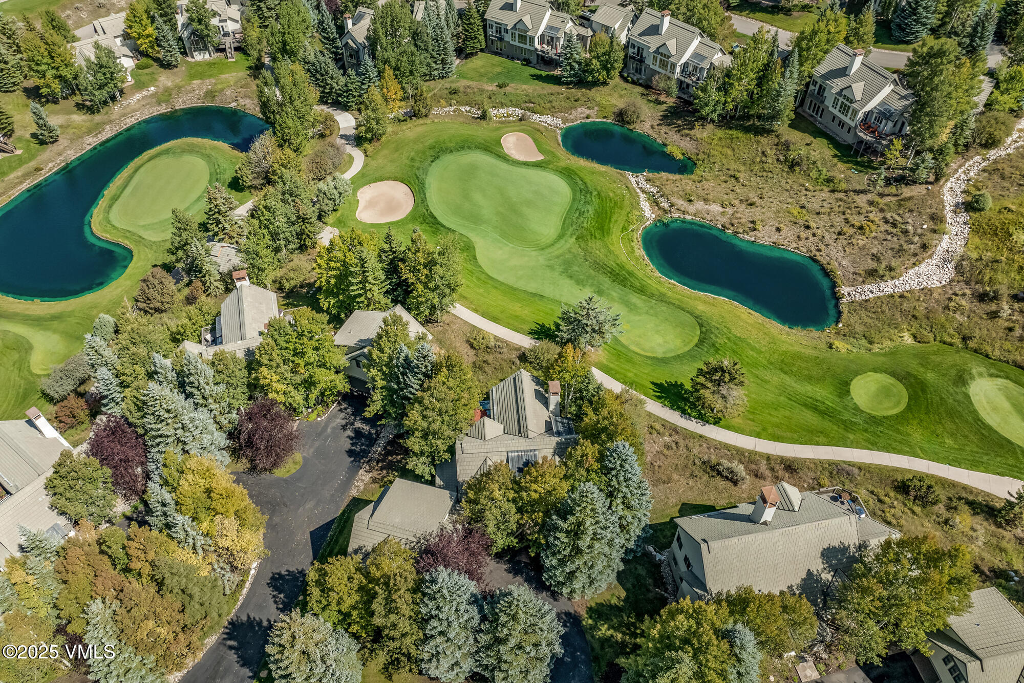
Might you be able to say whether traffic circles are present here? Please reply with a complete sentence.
No, the photo shows no traffic circle.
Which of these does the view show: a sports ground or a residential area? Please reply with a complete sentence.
This looks like a residential area.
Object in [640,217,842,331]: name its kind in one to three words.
pond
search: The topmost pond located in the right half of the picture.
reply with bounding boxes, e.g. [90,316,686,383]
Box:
[560,121,696,175]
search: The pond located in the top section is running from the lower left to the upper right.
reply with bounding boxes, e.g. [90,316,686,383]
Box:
[0,105,272,302]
